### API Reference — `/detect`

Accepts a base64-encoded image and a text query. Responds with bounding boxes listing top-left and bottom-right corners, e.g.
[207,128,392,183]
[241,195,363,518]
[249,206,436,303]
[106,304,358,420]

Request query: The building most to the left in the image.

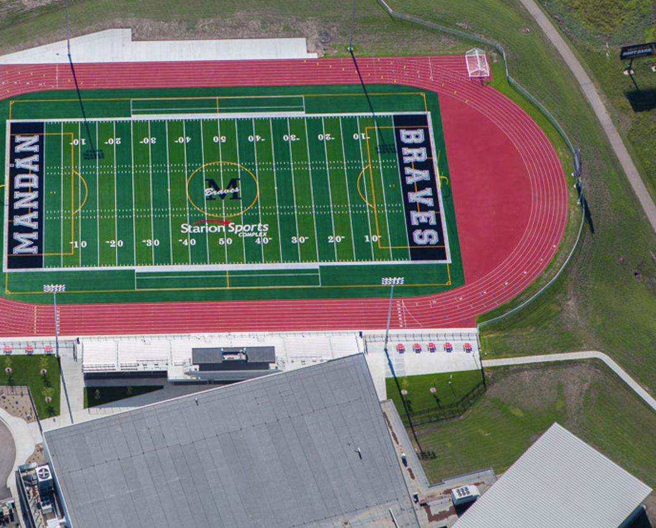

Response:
[42,352,418,528]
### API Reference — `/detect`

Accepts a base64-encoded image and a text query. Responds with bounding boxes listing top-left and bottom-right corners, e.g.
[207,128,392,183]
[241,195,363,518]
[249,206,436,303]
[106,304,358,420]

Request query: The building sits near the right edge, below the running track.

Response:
[449,424,653,528]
